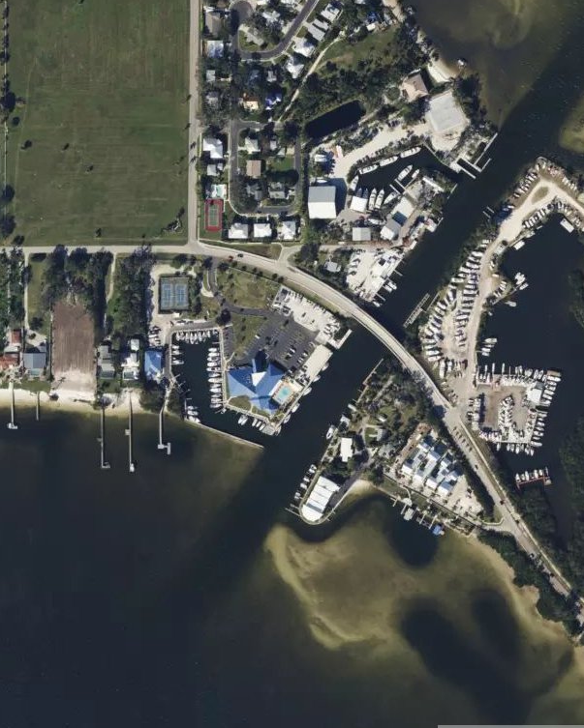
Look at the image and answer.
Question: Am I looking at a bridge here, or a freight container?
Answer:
bridge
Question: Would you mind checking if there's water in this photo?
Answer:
Yes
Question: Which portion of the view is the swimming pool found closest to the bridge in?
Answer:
center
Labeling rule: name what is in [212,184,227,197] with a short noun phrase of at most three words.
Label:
swimming pool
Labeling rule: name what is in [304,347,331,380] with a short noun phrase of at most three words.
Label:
house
